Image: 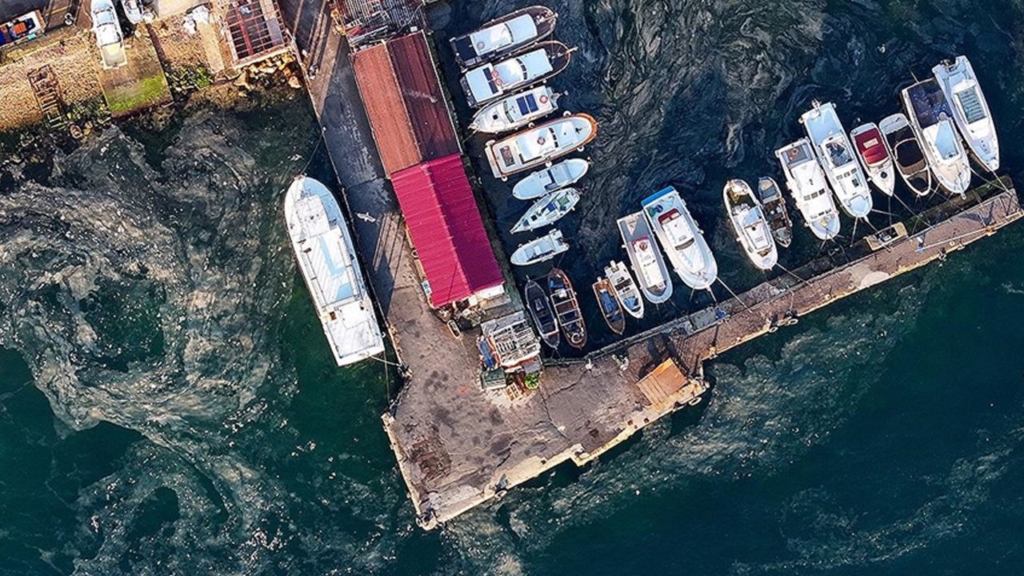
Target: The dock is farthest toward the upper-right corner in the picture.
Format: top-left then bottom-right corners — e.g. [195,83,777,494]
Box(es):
[298,0,1024,530]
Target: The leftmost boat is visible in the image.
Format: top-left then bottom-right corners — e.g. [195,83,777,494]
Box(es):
[0,10,49,48]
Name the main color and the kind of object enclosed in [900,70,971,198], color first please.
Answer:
white boat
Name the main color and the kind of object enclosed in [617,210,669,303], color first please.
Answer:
white boat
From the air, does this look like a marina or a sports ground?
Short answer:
marina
